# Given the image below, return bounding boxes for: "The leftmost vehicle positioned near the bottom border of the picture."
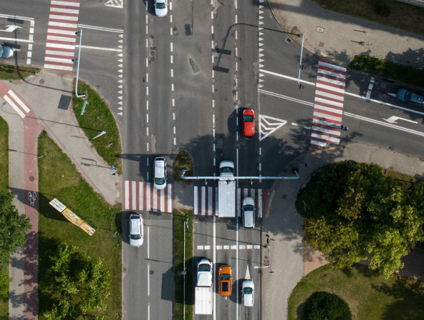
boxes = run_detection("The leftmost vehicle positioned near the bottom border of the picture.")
[195,255,214,319]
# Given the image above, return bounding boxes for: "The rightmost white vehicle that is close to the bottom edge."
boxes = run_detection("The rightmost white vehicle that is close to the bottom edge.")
[240,277,255,307]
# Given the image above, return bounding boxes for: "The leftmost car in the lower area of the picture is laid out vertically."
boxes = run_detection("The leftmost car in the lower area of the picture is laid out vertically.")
[128,213,144,246]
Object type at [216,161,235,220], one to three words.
vehicle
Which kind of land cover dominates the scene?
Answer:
paved ground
